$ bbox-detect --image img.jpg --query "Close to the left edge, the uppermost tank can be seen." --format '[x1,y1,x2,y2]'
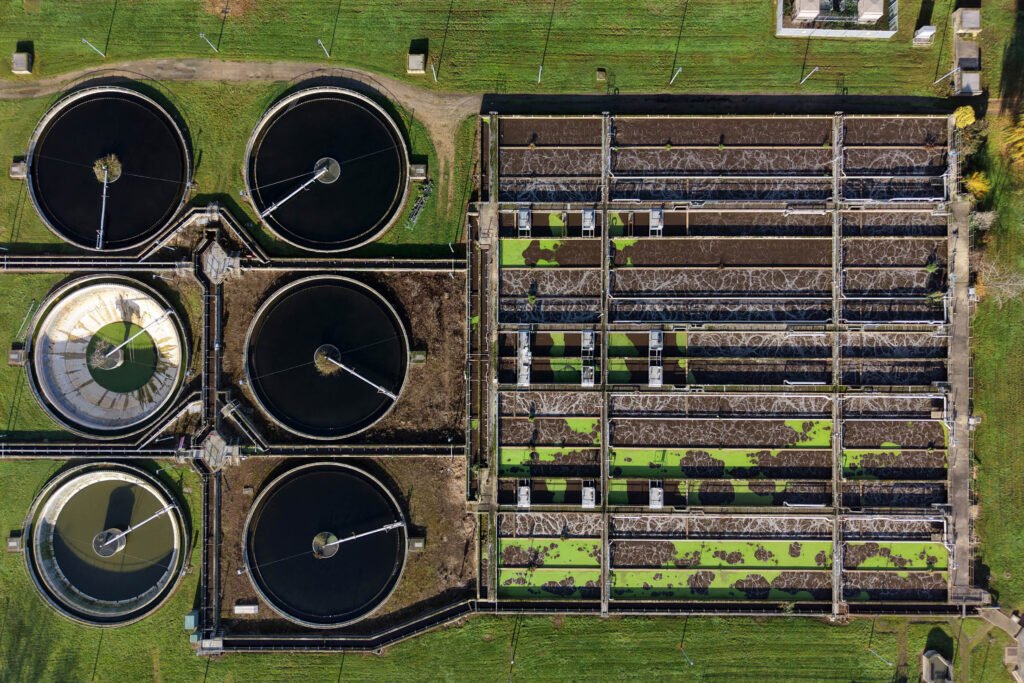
[26,86,192,251]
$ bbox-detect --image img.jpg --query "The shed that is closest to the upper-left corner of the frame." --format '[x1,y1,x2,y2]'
[12,53,31,72]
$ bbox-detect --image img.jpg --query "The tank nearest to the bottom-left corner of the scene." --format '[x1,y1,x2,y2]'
[23,462,190,628]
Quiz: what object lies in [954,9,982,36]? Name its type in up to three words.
building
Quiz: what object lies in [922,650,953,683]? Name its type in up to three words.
building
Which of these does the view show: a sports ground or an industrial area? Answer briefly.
industrial area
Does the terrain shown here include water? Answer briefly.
Yes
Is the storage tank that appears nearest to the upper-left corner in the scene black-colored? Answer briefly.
Yes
